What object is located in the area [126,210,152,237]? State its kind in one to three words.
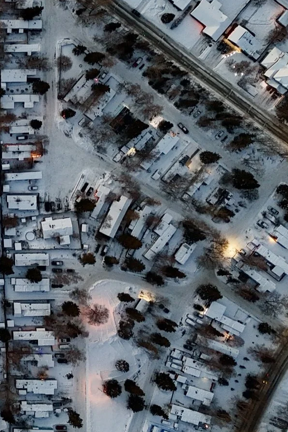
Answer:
house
